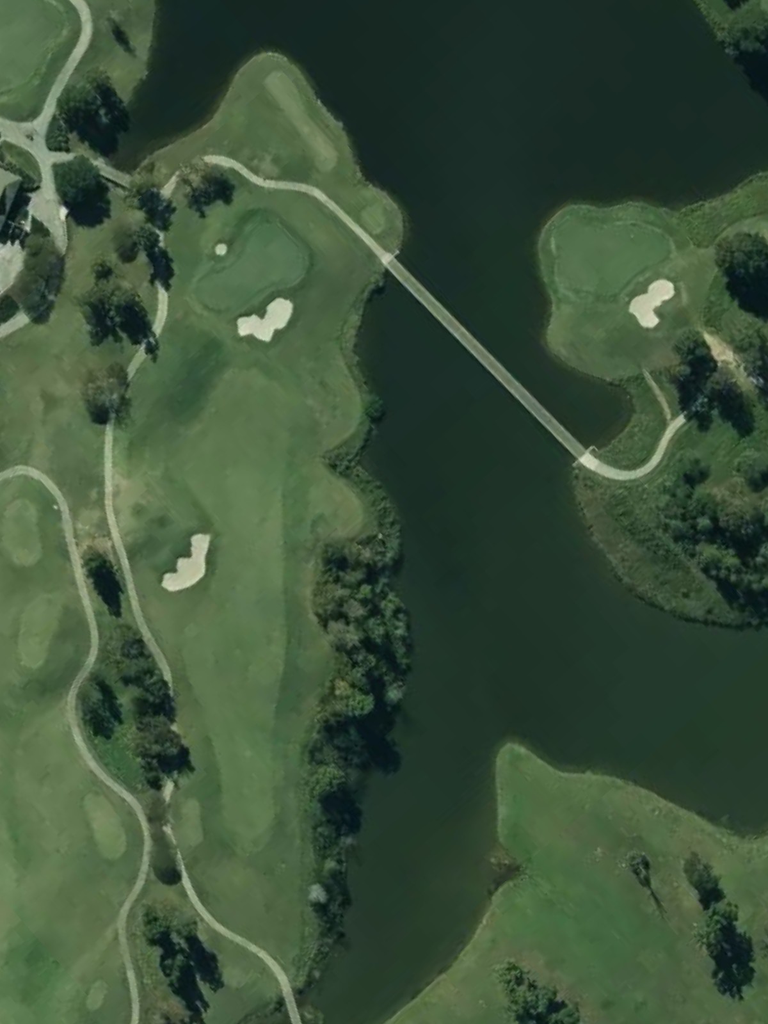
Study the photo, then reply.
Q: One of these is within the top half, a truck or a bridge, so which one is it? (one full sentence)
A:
You can see a bridge within the top half.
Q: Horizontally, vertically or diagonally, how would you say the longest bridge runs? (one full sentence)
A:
What the image shows is the longest bridge lying diagonally.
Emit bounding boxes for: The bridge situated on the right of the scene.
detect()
[378,246,602,469]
